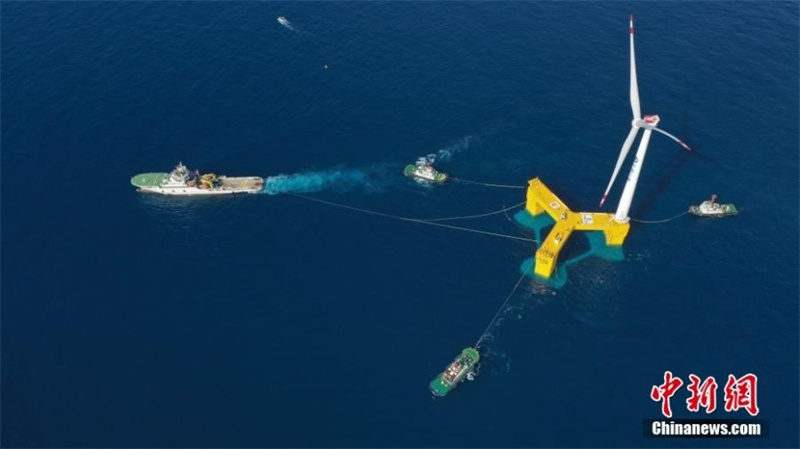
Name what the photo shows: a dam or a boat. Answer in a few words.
boat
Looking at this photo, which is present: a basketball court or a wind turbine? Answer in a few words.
wind turbine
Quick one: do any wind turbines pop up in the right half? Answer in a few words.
Yes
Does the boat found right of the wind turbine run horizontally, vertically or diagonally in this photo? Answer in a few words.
horizontally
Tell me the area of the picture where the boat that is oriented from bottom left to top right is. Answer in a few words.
bottom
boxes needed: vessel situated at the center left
[130,159,266,197]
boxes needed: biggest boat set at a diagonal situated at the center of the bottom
[428,349,482,399]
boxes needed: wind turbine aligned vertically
[600,14,691,223]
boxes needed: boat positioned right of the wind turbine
[689,198,741,221]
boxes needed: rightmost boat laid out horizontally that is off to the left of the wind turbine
[402,162,450,187]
